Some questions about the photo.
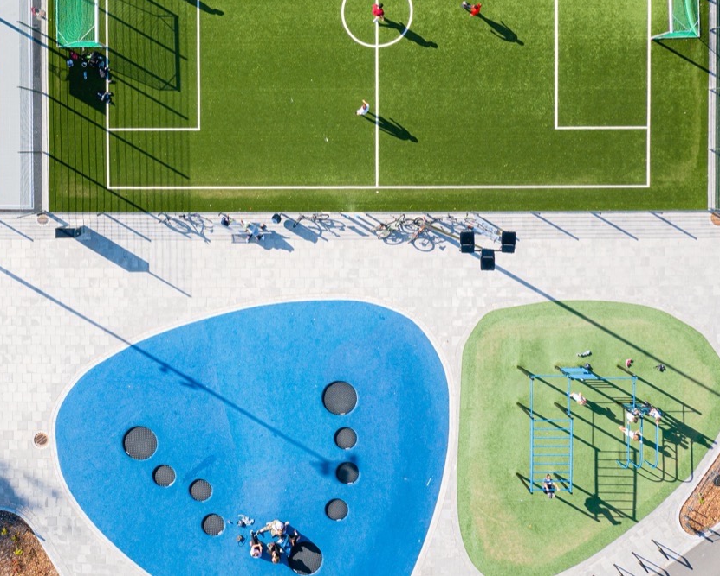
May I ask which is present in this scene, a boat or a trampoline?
trampoline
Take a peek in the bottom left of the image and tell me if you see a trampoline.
Yes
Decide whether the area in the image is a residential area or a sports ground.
sports ground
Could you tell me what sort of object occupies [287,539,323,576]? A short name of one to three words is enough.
trampoline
